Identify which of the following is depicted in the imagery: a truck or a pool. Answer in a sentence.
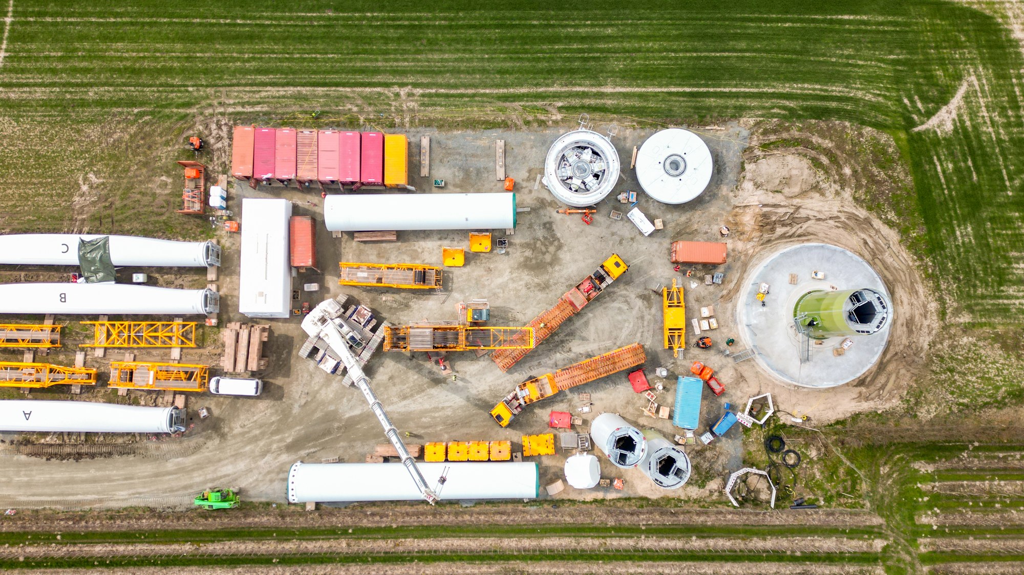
The image shows a truck.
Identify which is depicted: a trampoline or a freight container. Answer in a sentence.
The image shows a freight container.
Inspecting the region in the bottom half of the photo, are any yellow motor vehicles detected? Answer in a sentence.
Yes, a yellow motor vehicle shows up in the bottom half of the photo.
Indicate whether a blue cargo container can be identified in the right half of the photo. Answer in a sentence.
Yes, the scene does show a blue cargo container in the right half of the photo.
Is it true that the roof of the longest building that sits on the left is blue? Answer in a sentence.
No, the roof of the longest building that sits on the left is actually white.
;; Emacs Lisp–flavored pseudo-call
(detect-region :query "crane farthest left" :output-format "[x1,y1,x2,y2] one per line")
[301,296,444,511]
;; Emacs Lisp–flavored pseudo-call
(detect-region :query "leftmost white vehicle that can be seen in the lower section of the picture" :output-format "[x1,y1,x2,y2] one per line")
[211,376,265,398]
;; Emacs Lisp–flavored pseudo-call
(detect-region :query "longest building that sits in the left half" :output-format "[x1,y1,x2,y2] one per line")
[239,198,292,318]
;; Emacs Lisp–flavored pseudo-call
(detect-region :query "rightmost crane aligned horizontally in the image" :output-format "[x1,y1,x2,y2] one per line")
[383,299,535,370]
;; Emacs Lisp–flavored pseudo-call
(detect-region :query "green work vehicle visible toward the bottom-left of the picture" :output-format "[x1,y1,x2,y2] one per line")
[193,487,241,510]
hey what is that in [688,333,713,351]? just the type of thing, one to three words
work vehicle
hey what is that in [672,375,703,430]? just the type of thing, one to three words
shipping container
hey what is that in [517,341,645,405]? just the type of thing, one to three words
trailer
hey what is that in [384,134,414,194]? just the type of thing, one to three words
shipping container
